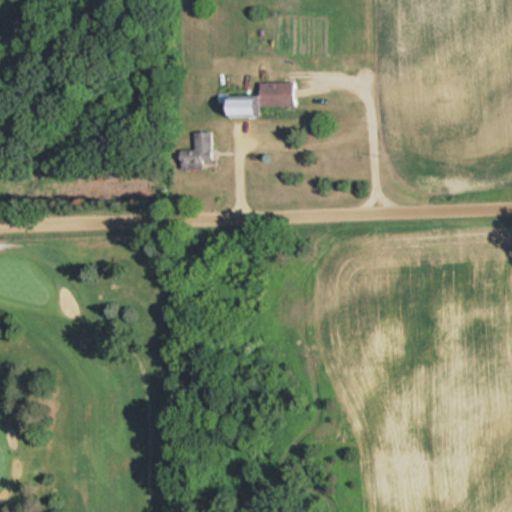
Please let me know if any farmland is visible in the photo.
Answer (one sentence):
Yes, there's farmland in this view.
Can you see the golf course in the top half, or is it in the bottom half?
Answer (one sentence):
Seen from above, the golf course lies in the bottom half of the view.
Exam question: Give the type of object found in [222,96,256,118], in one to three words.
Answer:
barn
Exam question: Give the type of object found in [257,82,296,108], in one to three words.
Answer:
barn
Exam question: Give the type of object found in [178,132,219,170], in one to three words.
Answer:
house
